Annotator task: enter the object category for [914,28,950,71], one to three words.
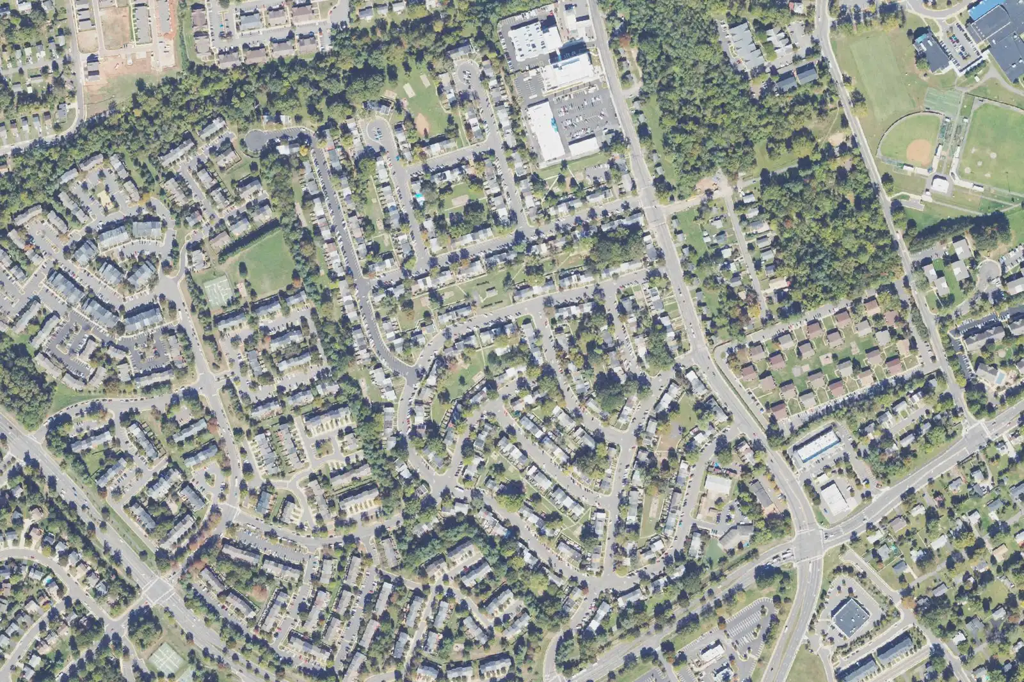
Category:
building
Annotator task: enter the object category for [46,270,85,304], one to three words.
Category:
building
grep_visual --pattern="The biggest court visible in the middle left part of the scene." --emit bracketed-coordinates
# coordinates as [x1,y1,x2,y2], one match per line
[204,276,233,309]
